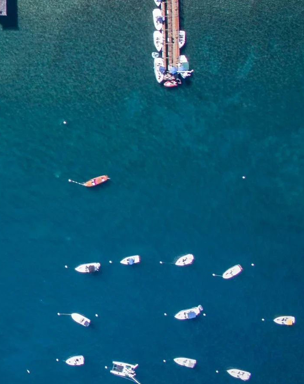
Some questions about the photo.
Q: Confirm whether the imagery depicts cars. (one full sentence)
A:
No, I find no car anywhere in the image.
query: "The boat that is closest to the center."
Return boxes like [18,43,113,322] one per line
[84,174,110,186]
